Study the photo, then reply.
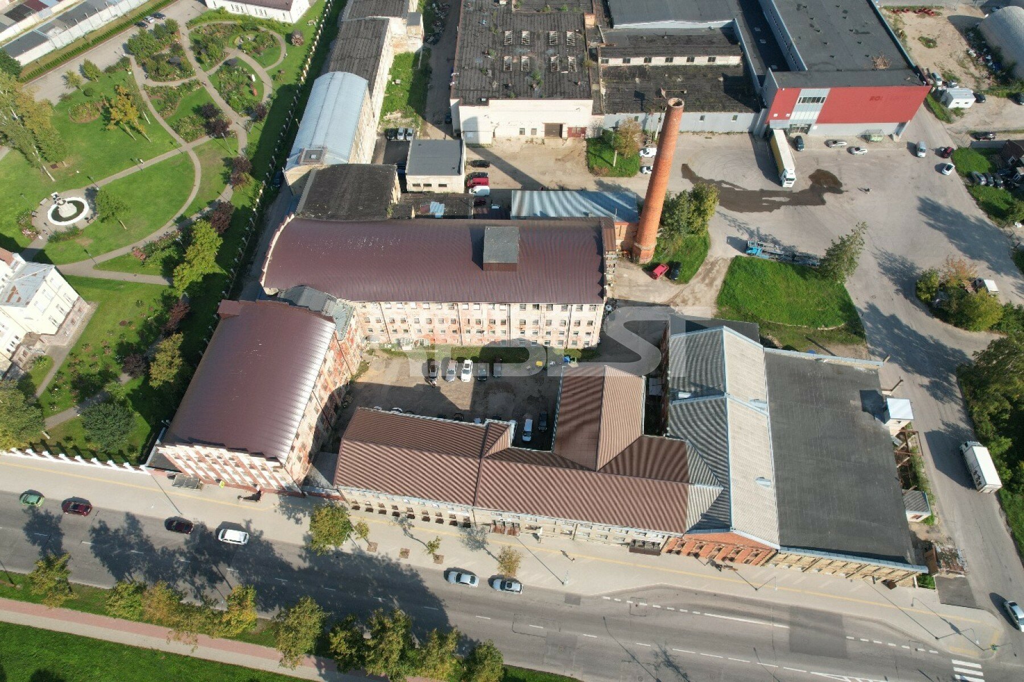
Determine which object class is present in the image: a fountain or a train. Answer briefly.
fountain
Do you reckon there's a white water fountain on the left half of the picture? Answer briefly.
Yes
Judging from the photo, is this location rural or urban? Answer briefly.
urban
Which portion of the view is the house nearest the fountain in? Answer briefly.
left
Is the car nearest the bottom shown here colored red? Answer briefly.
No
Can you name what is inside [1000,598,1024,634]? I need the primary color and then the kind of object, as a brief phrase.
gray car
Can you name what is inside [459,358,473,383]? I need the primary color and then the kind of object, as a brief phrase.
white car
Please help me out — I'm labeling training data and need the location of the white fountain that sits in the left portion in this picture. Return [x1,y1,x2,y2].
[43,194,90,225]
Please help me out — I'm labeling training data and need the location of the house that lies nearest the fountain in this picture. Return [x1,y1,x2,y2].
[0,261,91,346]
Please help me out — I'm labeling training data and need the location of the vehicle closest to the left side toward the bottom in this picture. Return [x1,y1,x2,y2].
[17,491,49,508]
